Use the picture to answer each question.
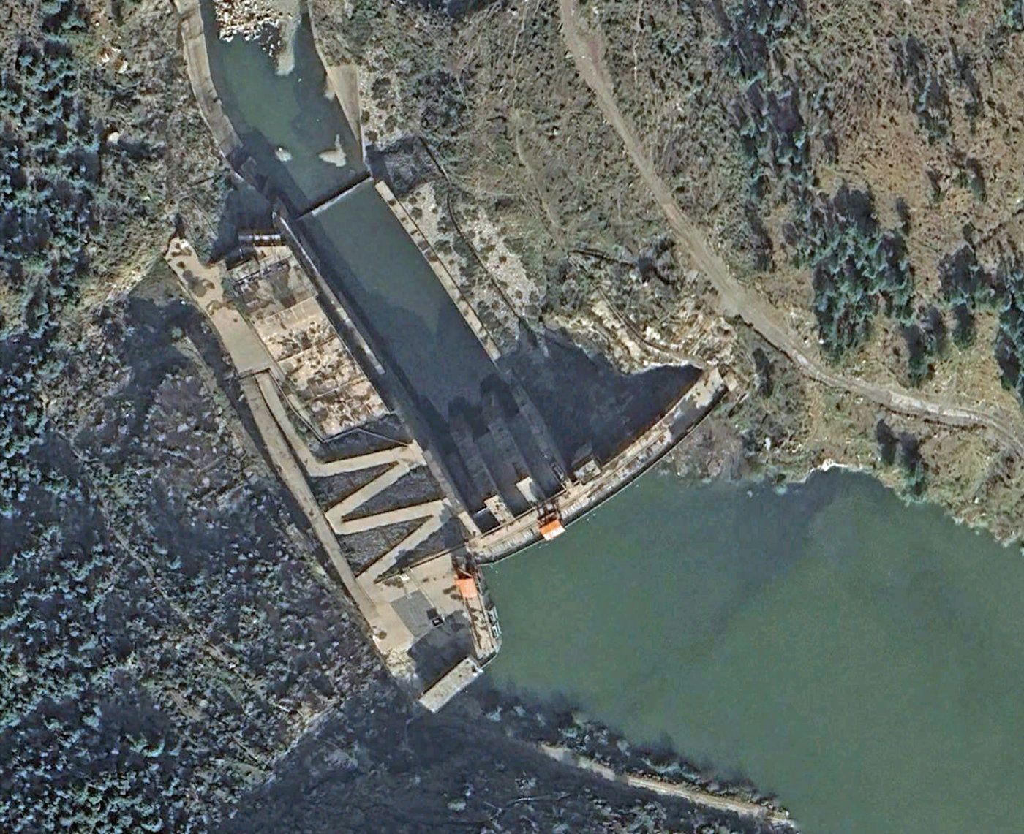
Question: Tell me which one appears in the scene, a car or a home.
home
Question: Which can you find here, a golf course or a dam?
dam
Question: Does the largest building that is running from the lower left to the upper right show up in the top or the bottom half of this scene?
bottom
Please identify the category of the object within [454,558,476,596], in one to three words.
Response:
house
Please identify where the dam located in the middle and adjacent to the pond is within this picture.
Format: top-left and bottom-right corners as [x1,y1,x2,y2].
[440,370,740,566]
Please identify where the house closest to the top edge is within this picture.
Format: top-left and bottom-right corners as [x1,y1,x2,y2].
[574,462,600,484]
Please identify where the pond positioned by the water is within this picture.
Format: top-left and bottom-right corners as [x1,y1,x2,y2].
[482,464,1024,834]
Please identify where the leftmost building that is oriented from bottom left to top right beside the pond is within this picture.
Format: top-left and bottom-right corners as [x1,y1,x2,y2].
[420,656,483,711]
